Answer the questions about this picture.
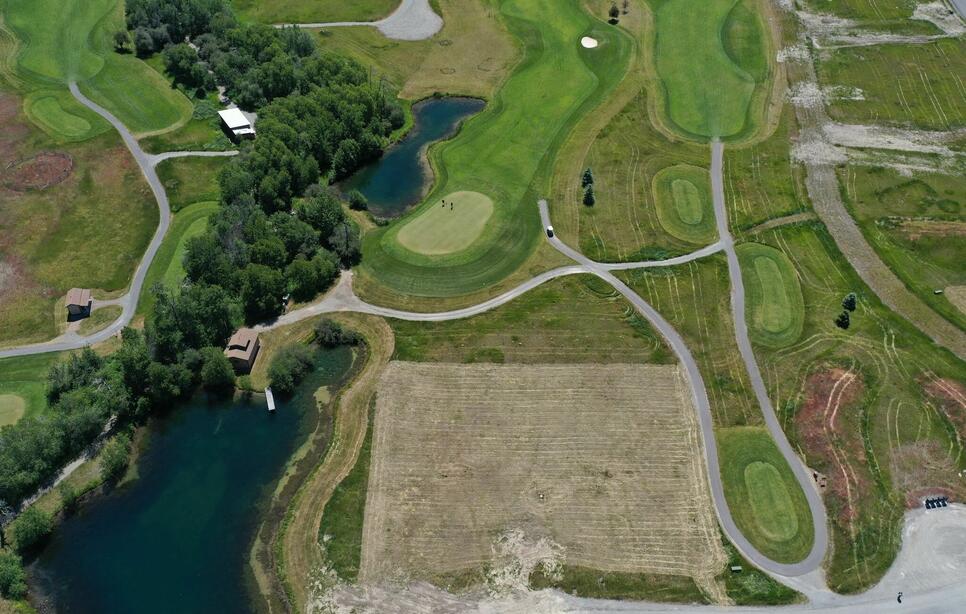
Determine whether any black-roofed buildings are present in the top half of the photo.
No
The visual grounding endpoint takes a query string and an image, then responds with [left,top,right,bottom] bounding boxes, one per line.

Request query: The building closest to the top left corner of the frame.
[218,107,254,146]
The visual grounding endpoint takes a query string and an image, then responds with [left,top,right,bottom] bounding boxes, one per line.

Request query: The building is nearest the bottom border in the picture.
[223,324,266,370]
